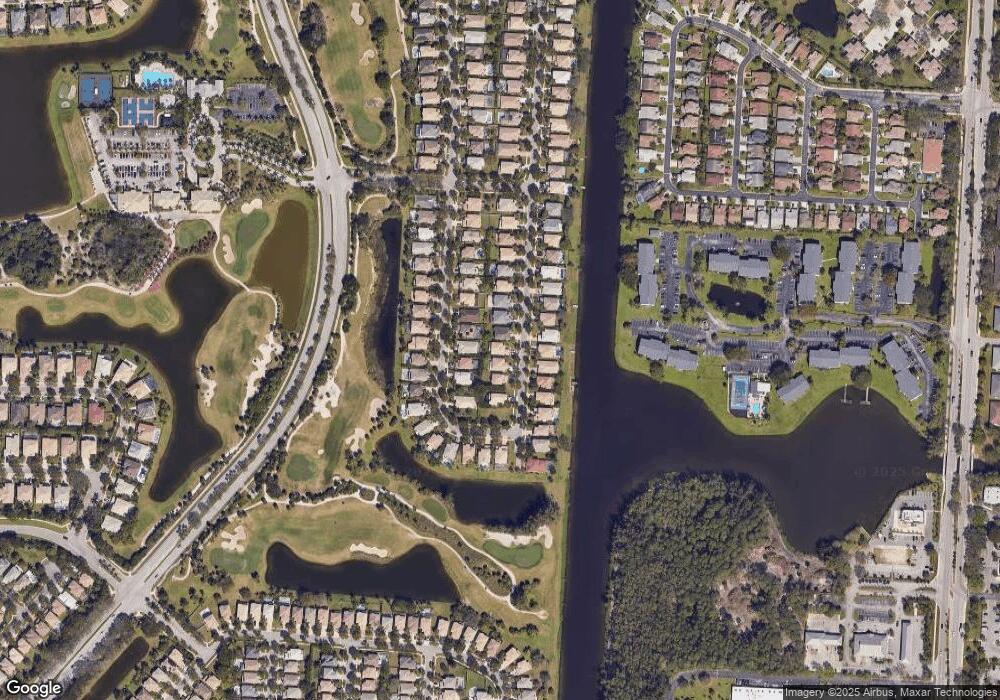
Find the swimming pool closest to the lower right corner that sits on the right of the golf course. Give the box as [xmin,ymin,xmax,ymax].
[750,393,770,418]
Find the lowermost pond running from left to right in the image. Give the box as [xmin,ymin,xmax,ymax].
[265,542,459,602]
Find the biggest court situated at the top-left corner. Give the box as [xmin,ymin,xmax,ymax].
[79,73,112,106]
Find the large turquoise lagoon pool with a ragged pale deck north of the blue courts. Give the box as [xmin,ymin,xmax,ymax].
[135,62,184,90]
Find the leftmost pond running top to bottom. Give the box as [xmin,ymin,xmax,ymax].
[250,201,308,331]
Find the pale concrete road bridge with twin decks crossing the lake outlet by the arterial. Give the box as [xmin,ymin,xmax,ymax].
[942,453,974,477]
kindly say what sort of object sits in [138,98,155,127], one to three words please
sports court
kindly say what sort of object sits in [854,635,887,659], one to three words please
building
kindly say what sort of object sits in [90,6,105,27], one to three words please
house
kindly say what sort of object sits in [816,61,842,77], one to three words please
swimming pool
